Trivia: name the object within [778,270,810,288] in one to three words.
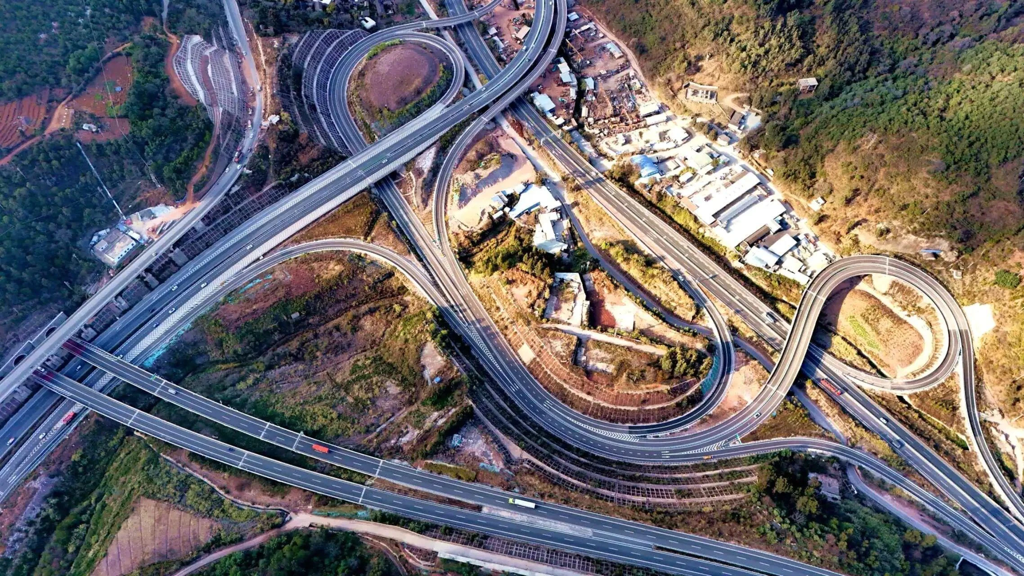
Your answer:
building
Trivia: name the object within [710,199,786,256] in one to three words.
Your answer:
building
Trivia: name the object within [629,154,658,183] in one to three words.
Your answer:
shed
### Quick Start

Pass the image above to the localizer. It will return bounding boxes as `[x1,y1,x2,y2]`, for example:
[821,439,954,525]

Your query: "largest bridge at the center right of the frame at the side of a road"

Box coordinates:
[750,256,866,415]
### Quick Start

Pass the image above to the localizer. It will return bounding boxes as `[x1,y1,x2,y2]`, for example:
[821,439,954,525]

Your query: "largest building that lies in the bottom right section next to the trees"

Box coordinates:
[819,476,839,496]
